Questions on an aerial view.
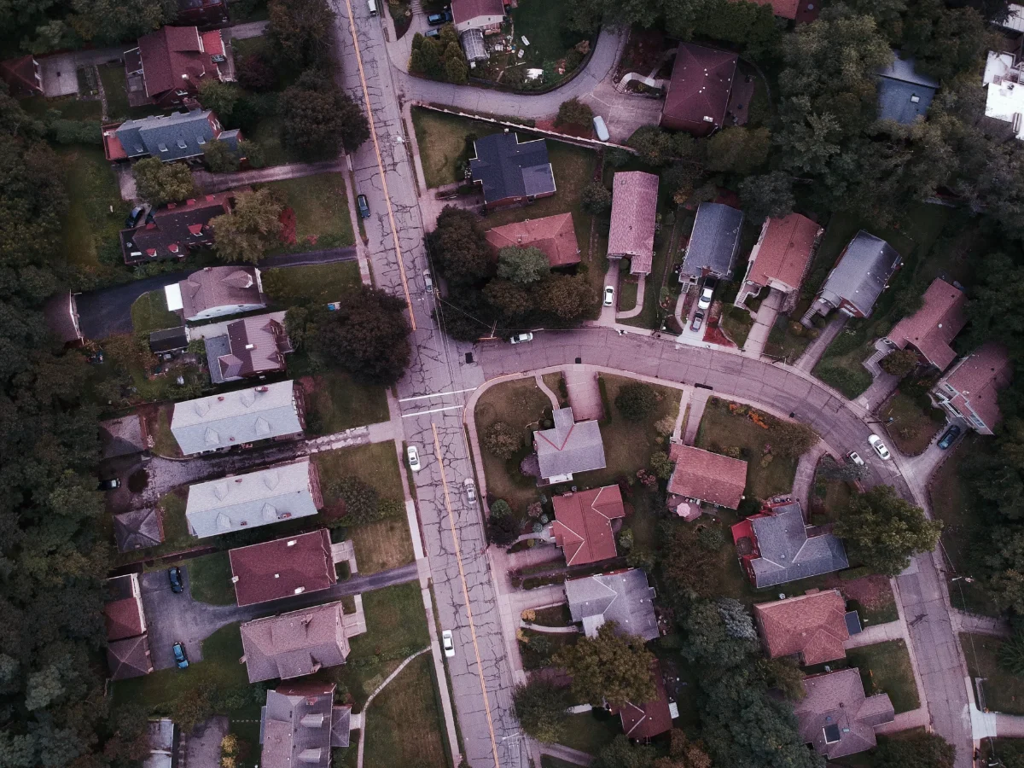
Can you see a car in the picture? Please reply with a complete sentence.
Yes, a car appears in the view.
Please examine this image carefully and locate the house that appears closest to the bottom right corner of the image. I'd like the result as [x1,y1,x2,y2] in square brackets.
[797,663,896,759]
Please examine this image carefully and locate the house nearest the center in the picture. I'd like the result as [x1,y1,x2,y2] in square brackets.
[532,407,606,487]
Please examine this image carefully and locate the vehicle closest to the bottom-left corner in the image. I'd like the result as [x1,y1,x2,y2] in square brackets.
[172,640,189,670]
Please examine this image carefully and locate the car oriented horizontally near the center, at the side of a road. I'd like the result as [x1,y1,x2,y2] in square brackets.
[509,332,534,344]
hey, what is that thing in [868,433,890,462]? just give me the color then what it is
white car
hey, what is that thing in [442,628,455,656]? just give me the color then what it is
white vehicle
